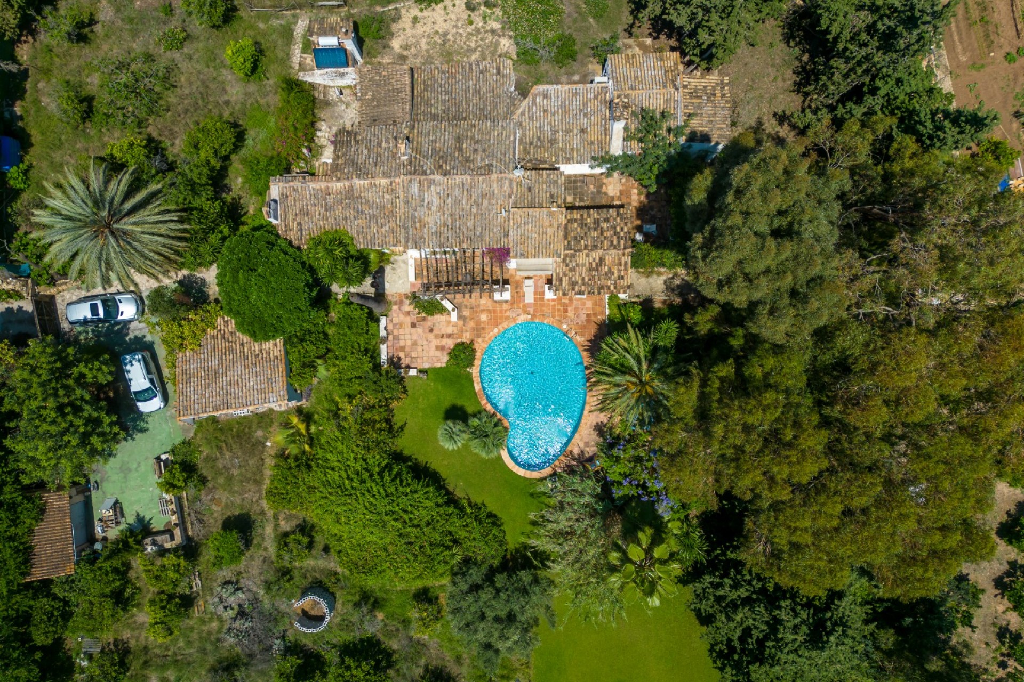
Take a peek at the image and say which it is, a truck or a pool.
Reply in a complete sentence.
Visible in the photo is a pool.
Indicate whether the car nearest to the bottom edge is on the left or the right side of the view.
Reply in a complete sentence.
The car nearest to the bottom edge appears in the left half of the scene.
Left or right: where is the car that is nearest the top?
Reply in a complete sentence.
You can find the car that is nearest the top on the left side of the picture.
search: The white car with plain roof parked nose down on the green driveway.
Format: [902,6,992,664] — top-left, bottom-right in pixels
[120,349,172,414]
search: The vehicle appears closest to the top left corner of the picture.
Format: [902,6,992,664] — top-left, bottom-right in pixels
[63,291,149,326]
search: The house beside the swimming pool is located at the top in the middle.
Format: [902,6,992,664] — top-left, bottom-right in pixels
[264,49,732,296]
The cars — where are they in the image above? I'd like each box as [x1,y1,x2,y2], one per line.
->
[120,349,172,414]
[63,291,149,326]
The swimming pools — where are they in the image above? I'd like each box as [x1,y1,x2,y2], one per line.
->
[480,321,587,470]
